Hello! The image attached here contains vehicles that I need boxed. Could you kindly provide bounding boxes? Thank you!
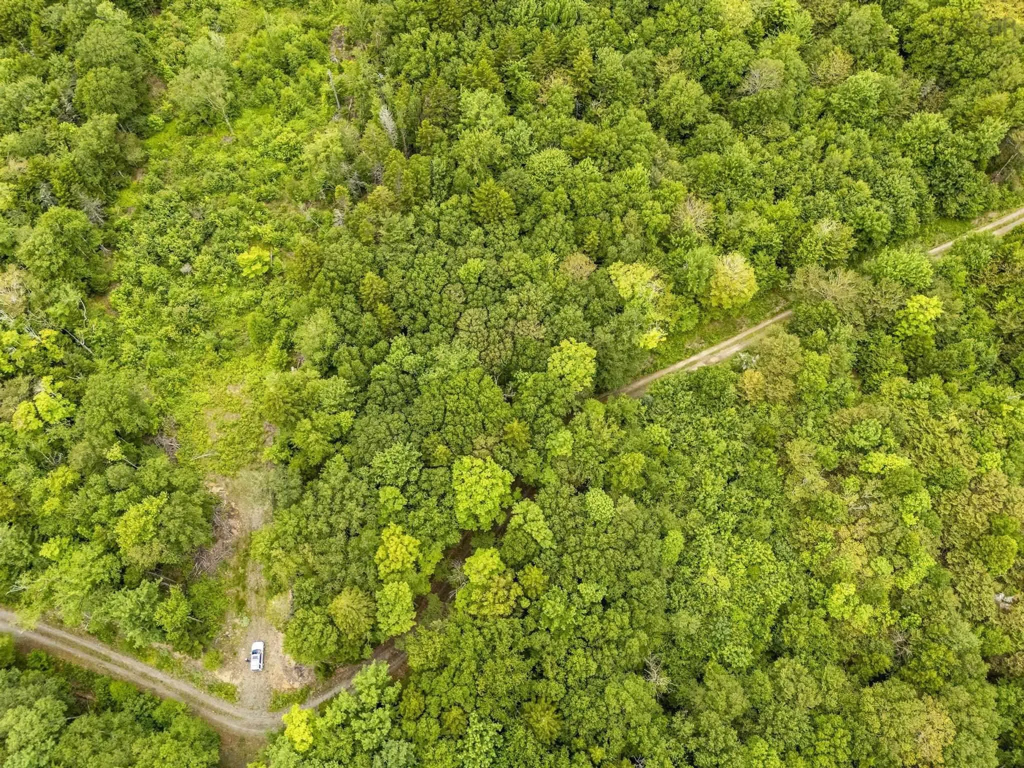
[249,640,267,673]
